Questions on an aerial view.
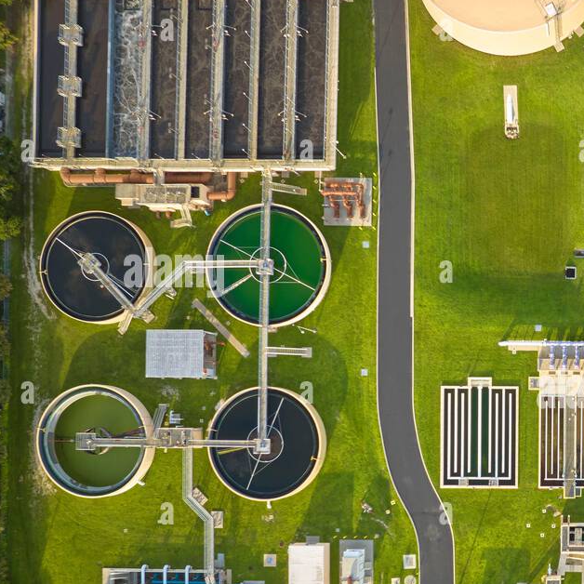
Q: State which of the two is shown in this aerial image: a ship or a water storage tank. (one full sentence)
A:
There is a water storage tank in the scene.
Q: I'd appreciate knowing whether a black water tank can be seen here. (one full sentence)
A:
Yes, a black water tank can be made out from above.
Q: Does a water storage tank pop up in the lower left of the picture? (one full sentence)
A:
Yes, a water storage tank is visible in the lower left of the picture.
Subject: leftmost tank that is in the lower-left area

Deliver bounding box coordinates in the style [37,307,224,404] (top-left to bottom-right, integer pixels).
[37,383,159,498]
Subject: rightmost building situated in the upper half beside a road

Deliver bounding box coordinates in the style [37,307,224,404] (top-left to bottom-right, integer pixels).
[320,172,372,227]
